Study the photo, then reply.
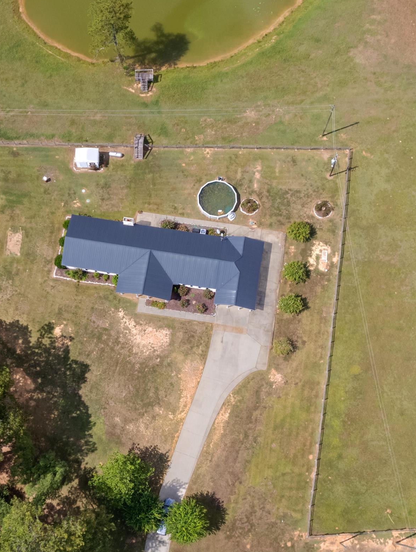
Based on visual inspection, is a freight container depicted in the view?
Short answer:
No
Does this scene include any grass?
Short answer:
Yes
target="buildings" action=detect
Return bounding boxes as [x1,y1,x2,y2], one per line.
[75,147,99,170]
[61,214,264,312]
